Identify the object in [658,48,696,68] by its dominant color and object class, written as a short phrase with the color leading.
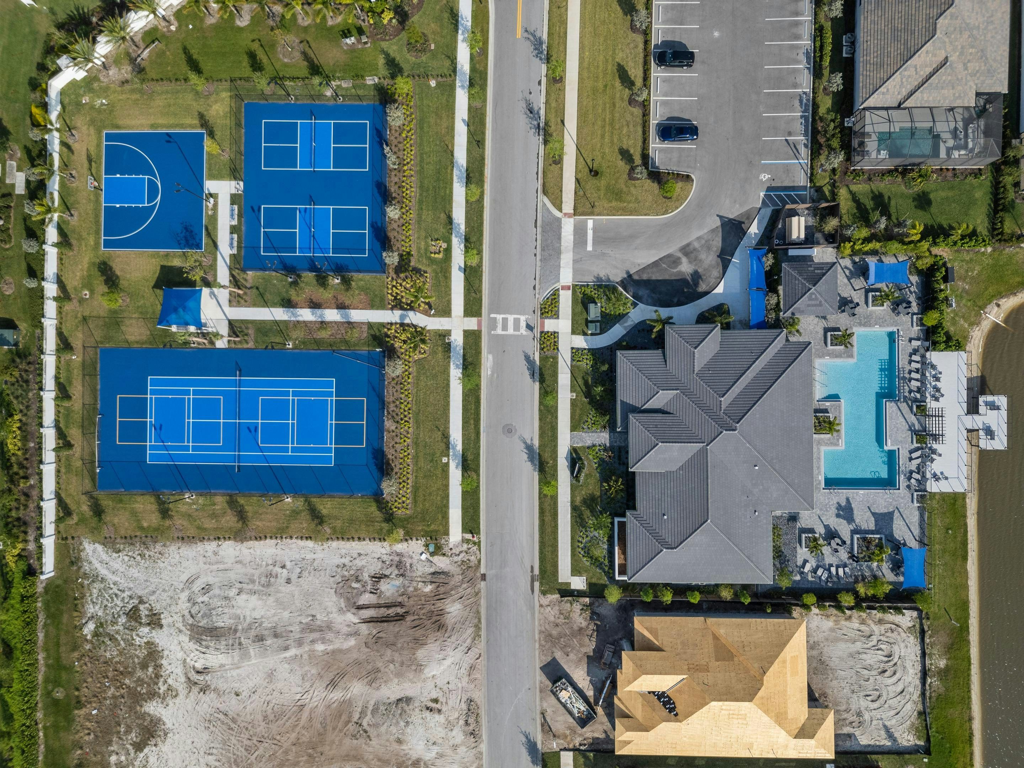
black car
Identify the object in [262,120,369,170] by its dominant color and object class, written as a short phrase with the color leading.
blue sports court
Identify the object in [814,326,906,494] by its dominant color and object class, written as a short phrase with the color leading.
blue swimming pool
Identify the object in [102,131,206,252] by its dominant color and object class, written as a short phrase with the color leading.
blue basketball court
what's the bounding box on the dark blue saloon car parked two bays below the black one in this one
[659,123,699,142]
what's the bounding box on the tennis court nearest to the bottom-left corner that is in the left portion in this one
[97,347,386,497]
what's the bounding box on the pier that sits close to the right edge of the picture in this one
[966,395,1013,450]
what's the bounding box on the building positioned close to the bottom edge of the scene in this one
[614,616,834,758]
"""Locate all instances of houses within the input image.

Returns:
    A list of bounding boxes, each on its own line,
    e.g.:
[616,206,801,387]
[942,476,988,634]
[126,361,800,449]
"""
[853,0,1014,113]
[616,324,814,584]
[614,616,834,758]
